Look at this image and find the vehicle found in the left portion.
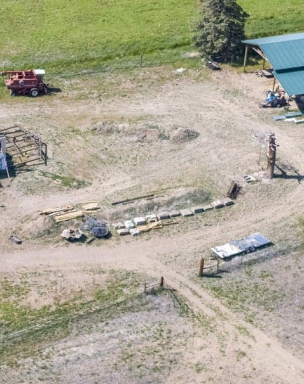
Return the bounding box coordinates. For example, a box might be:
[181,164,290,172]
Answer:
[0,70,51,101]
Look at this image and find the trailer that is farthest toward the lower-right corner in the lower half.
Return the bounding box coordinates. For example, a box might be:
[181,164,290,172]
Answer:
[210,233,271,261]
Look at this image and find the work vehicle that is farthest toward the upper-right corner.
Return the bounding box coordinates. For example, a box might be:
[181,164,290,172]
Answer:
[259,90,287,108]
